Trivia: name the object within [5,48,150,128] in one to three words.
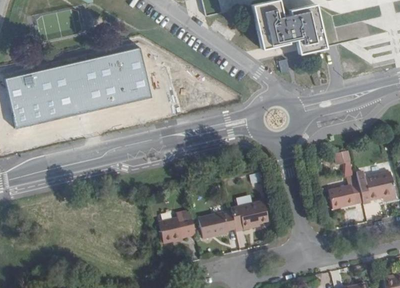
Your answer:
shed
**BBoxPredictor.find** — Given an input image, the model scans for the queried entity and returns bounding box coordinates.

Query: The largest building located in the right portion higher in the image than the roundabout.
[250,0,328,55]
